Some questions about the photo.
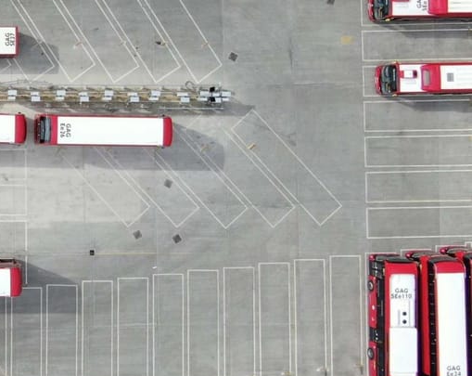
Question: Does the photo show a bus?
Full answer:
Yes, the image includes a bus.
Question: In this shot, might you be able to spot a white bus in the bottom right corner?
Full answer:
Yes, a white bus shows up in the bottom right corner.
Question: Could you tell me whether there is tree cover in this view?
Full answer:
No, the scene doesn't show any tree cover.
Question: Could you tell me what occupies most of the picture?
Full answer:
The scene is dominated by paved ground.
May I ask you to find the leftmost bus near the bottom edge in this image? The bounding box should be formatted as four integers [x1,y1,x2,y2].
[368,250,420,376]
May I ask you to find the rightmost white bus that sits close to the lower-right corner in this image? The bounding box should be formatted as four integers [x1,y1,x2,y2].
[406,247,468,376]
